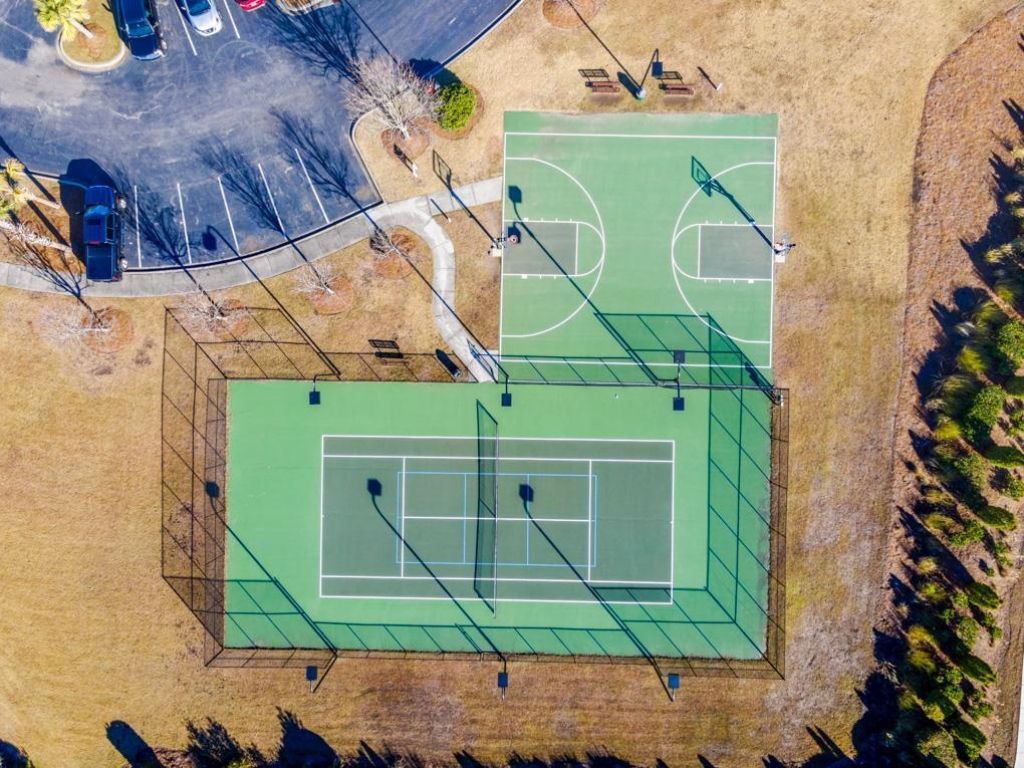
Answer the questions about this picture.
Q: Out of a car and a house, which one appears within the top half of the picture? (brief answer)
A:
car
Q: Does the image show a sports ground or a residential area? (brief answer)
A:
sports ground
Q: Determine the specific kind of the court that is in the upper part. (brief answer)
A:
basketball court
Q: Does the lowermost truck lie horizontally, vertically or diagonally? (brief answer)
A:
vertically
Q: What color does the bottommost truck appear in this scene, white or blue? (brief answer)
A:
blue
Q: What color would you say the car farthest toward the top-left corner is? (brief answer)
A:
blue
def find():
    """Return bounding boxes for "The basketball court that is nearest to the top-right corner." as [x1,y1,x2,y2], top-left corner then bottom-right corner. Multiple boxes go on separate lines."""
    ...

[499,110,778,383]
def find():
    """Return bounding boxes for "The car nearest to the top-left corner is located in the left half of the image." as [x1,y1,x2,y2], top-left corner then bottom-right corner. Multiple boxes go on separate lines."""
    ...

[119,0,166,62]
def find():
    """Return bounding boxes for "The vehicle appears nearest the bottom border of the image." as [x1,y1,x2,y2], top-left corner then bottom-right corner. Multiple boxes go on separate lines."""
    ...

[81,186,128,282]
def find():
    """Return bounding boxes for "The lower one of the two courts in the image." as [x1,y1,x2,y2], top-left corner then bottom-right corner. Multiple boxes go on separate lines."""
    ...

[225,380,771,660]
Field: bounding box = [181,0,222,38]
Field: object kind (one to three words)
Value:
car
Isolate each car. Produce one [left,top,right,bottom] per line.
[181,0,222,38]
[119,0,166,62]
[235,0,266,14]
